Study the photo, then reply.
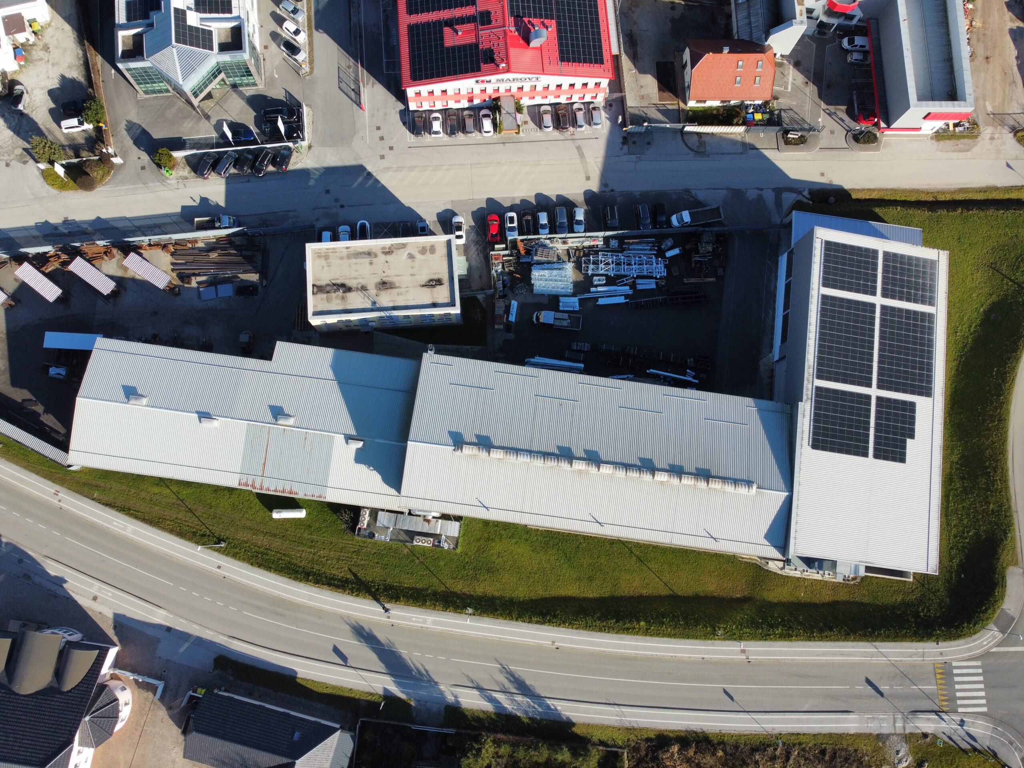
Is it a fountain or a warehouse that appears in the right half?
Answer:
warehouse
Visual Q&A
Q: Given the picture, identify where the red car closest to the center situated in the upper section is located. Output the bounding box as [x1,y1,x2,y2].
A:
[486,215,501,243]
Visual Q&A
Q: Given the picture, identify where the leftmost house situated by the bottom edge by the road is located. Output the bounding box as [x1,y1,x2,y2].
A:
[0,627,133,768]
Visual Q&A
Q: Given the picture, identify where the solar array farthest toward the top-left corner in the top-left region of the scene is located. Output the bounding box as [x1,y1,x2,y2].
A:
[126,0,149,21]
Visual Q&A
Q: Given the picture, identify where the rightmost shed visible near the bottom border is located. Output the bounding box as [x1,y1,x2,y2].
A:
[182,689,342,768]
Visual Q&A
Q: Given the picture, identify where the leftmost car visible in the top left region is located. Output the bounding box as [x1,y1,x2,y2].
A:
[10,85,29,112]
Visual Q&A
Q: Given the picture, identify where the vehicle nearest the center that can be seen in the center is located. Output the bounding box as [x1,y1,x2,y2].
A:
[532,310,582,330]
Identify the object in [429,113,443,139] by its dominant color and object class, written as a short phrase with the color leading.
white car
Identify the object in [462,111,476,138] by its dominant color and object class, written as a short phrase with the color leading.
gray car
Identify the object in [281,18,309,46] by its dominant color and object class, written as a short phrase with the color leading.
white car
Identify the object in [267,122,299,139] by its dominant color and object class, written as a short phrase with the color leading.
black car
